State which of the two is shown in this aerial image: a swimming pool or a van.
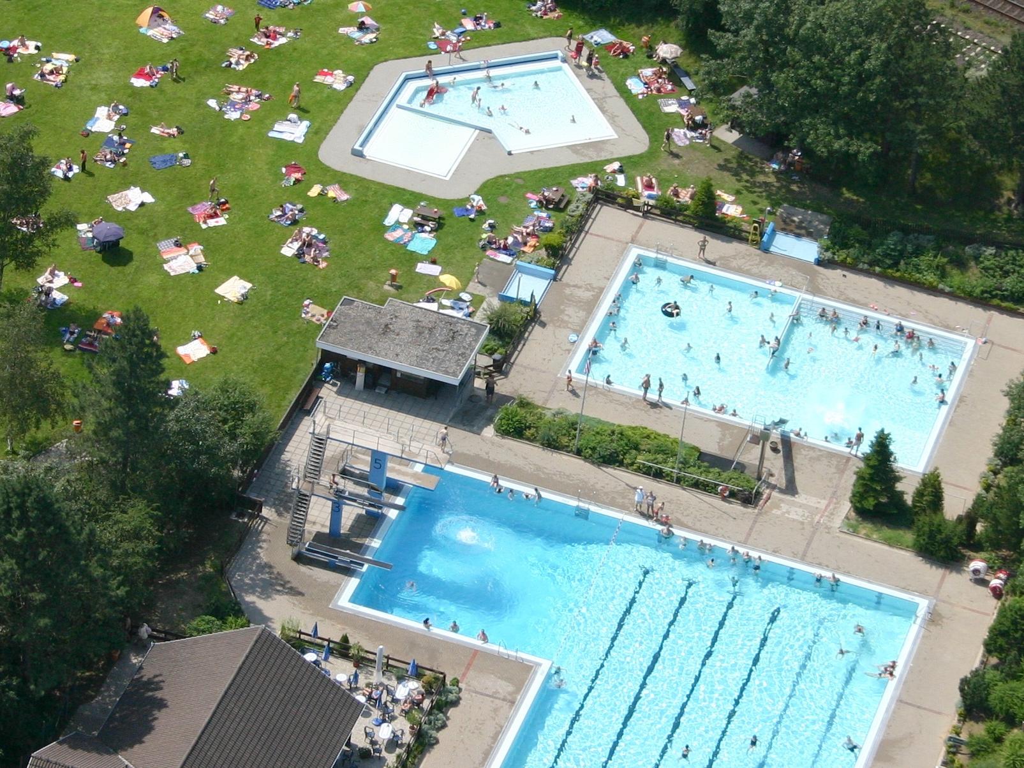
swimming pool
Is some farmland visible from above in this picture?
No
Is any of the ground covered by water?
Yes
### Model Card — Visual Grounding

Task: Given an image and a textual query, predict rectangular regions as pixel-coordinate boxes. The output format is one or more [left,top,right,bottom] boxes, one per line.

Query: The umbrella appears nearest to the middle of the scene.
[432,274,457,303]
